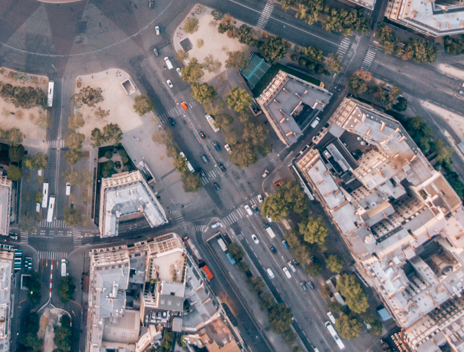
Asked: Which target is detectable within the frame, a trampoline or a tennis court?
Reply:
tennis court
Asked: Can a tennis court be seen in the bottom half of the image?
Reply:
No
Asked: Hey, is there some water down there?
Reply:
No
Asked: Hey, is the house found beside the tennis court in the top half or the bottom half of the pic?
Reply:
top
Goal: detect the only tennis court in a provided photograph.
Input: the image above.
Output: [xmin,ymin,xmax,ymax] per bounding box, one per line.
[240,54,271,89]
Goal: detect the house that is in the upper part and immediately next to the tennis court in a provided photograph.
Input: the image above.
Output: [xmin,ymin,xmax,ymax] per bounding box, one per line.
[255,69,332,146]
